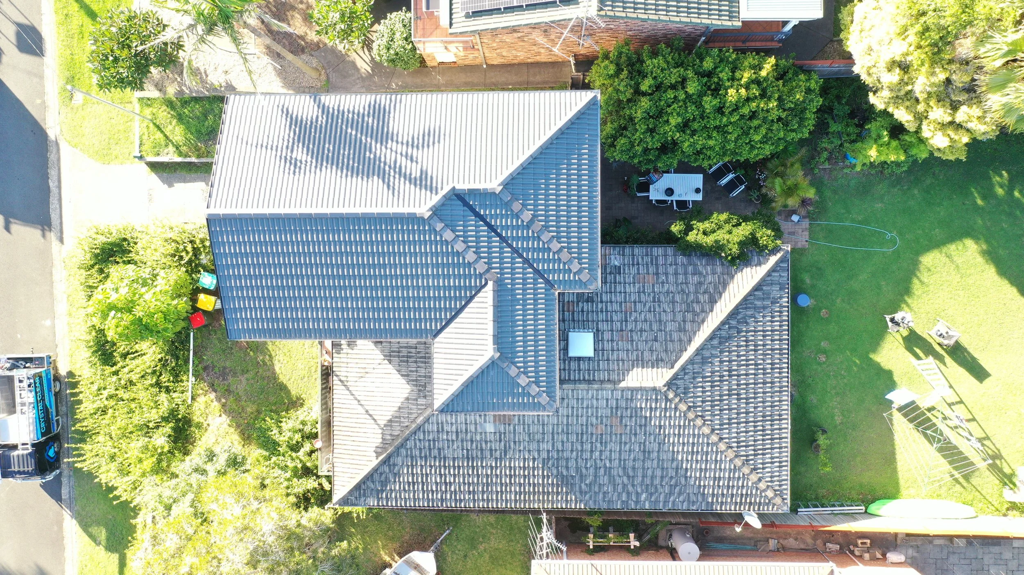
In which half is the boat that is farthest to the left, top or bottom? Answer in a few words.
bottom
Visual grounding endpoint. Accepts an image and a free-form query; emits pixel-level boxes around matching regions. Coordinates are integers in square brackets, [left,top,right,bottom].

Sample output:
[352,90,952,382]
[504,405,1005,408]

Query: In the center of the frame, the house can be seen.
[200,88,792,515]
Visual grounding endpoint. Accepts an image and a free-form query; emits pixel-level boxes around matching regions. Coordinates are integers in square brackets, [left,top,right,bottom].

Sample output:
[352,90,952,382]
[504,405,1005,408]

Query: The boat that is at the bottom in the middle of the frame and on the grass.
[378,526,453,575]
